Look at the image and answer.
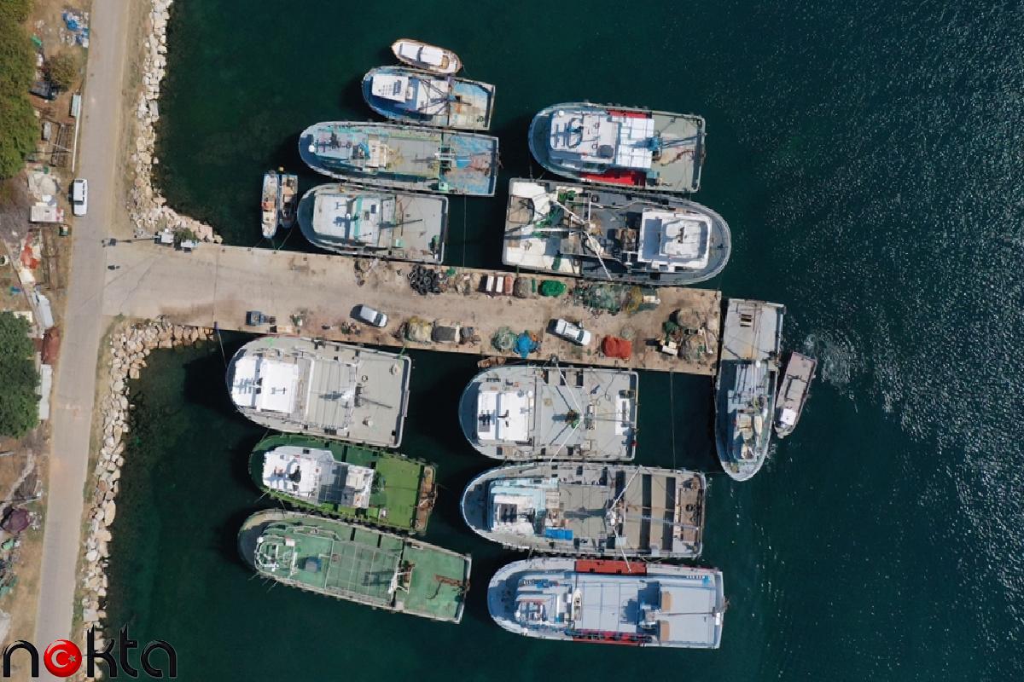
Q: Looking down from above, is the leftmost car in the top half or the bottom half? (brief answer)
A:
top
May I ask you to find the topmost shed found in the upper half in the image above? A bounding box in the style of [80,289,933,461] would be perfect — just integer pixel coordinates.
[20,203,60,222]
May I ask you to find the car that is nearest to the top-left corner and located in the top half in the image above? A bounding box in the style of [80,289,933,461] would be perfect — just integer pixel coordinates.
[71,178,91,216]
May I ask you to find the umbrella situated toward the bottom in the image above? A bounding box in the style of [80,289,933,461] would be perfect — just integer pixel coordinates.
[0,511,21,541]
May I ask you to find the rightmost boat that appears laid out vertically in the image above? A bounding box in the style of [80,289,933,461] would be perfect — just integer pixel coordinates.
[773,351,818,439]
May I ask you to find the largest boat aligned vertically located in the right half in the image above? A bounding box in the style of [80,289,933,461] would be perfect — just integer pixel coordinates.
[712,299,787,482]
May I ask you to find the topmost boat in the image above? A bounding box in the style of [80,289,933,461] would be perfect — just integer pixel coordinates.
[391,39,463,75]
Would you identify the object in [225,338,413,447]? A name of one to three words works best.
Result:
boat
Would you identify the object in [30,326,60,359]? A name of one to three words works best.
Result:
shed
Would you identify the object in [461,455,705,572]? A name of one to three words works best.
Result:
boat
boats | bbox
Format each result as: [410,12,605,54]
[297,183,450,264]
[773,351,818,439]
[391,39,463,75]
[262,171,281,240]
[502,178,732,285]
[461,455,705,572]
[298,120,499,198]
[486,553,725,649]
[712,299,787,482]
[237,509,475,624]
[361,64,496,134]
[225,338,413,447]
[247,434,438,533]
[458,361,641,469]
[527,103,705,195]
[280,174,299,230]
